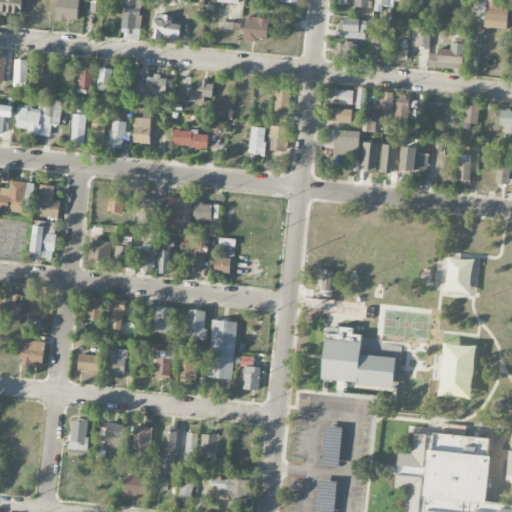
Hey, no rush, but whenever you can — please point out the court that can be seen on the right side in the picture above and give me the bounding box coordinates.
[377,304,432,342]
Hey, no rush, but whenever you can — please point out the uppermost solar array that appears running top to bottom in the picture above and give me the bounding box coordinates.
[322,427,342,466]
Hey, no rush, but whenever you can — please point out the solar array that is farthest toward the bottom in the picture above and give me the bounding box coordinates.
[316,482,338,512]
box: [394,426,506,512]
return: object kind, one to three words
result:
building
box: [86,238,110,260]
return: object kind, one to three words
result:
house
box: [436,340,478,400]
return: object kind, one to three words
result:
building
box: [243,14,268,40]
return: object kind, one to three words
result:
house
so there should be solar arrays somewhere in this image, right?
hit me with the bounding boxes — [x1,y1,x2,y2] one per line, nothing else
[322,427,342,466]
[316,482,338,512]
